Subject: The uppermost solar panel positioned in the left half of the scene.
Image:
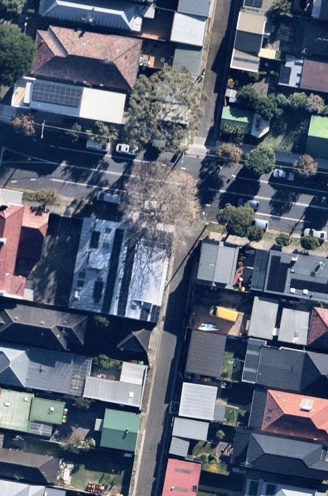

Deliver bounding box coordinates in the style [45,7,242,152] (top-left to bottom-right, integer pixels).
[33,81,83,107]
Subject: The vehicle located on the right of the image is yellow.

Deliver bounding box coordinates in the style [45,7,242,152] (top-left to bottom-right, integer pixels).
[207,304,243,322]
